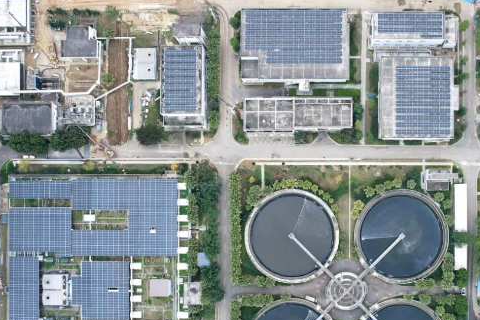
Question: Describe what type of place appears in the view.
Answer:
industrial area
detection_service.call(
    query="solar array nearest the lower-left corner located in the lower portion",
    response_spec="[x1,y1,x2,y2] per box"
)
[9,257,38,320]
